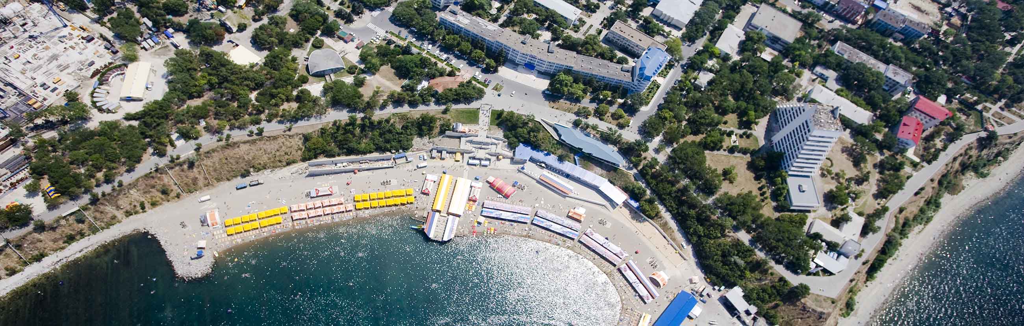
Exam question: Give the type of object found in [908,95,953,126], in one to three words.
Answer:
house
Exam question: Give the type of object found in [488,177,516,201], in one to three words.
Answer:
tent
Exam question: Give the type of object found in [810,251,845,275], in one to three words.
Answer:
building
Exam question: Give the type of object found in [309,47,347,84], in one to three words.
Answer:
building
